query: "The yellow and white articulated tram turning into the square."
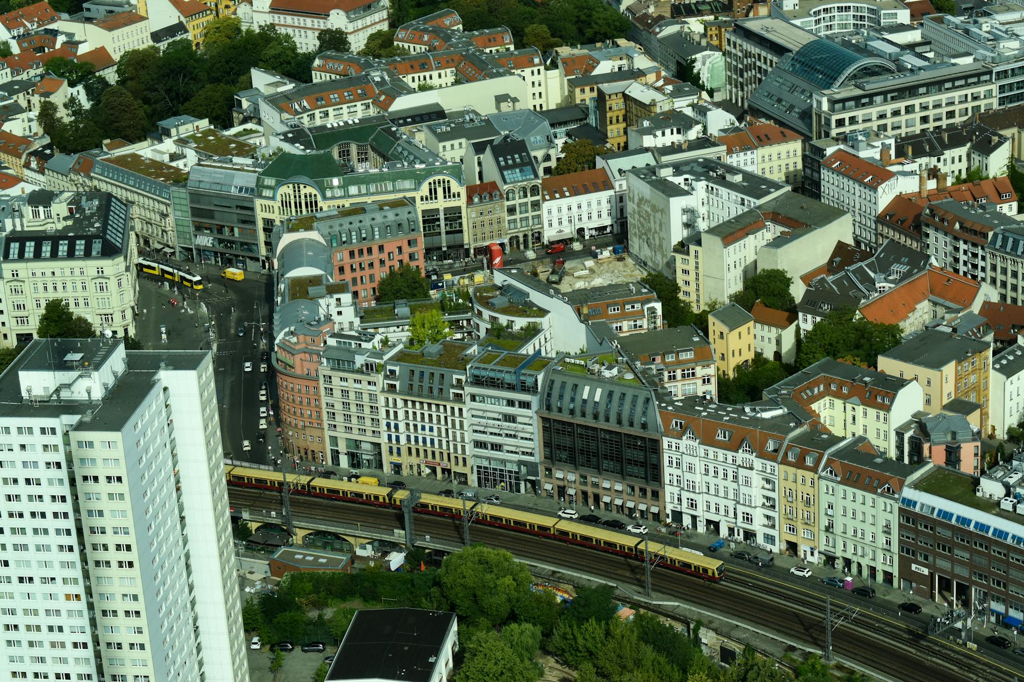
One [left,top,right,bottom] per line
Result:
[139,253,205,291]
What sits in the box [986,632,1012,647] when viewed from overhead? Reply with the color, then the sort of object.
black car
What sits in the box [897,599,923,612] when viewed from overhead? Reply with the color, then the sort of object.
black vehicle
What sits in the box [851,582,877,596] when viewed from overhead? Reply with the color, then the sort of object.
black car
